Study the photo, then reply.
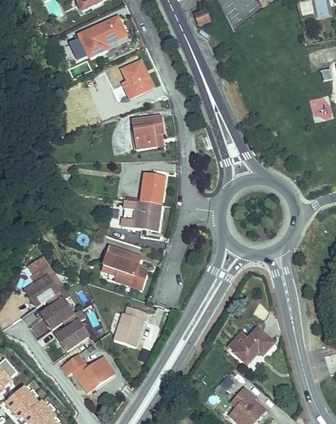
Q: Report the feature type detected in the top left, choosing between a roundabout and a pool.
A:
pool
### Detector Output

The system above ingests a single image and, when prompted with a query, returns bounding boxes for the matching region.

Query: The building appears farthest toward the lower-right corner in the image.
[228,386,268,424]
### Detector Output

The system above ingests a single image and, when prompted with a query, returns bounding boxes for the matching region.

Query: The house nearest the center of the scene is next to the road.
[112,172,167,233]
